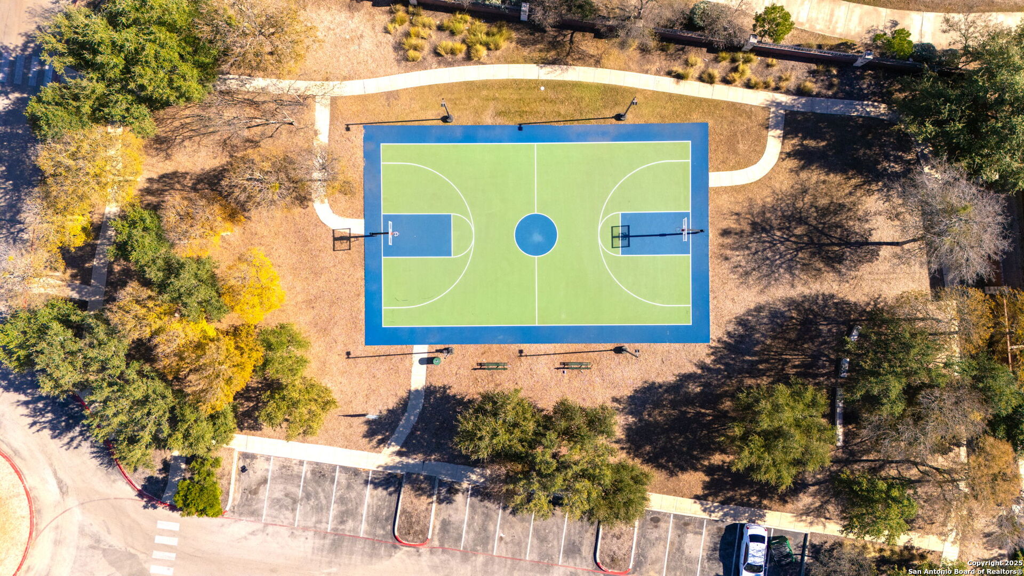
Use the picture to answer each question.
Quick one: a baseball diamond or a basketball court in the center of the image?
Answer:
basketball court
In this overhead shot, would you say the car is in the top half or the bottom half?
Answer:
bottom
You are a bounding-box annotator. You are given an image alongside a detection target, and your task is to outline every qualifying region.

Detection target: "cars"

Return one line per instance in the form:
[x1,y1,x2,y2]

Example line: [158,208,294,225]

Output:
[738,524,769,576]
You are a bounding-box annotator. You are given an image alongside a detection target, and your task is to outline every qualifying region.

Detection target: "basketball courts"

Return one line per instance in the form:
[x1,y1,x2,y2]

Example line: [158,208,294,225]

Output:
[364,123,709,345]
